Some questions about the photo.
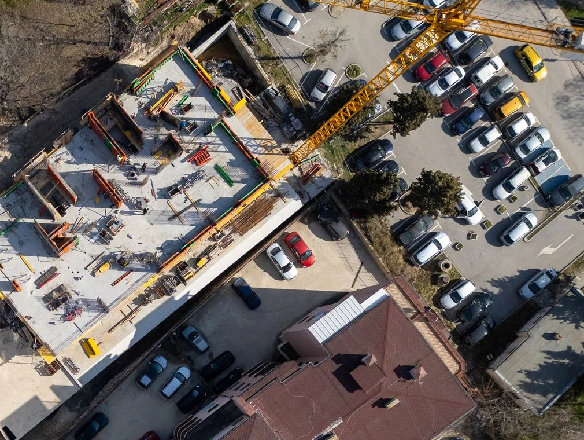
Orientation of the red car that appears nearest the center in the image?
diagonally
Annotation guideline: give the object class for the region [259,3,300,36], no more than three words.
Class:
car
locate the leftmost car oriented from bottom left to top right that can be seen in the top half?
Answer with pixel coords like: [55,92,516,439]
[308,67,339,104]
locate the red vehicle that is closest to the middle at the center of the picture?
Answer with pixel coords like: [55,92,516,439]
[282,230,315,269]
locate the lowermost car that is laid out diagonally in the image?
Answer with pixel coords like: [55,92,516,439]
[73,409,111,440]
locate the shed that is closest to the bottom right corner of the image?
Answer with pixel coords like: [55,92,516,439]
[481,286,584,414]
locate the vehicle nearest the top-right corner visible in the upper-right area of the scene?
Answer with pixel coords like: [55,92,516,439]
[514,42,550,83]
